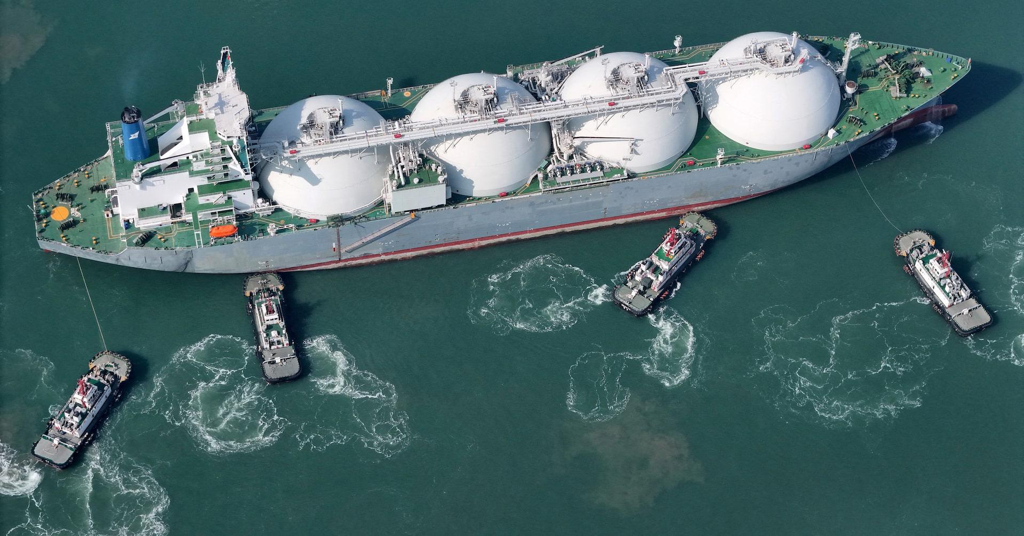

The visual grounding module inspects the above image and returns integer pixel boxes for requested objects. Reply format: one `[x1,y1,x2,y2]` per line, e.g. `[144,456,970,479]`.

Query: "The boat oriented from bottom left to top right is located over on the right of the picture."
[615,214,716,315]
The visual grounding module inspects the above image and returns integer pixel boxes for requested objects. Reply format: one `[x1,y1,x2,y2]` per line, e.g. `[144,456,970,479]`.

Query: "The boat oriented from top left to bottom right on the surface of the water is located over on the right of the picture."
[895,230,996,338]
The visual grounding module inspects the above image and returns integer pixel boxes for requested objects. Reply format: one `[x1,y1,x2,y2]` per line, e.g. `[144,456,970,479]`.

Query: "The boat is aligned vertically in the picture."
[242,271,305,387]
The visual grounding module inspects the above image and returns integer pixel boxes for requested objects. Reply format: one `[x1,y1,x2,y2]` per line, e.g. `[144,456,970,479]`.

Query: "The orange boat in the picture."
[209,225,239,238]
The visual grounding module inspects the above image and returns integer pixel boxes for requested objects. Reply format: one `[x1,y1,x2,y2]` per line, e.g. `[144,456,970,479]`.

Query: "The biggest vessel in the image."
[27,28,974,274]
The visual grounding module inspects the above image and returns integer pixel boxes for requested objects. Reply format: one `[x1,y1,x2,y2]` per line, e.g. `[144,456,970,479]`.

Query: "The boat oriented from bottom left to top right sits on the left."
[31,351,132,469]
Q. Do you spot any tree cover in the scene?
No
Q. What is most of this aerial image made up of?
water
